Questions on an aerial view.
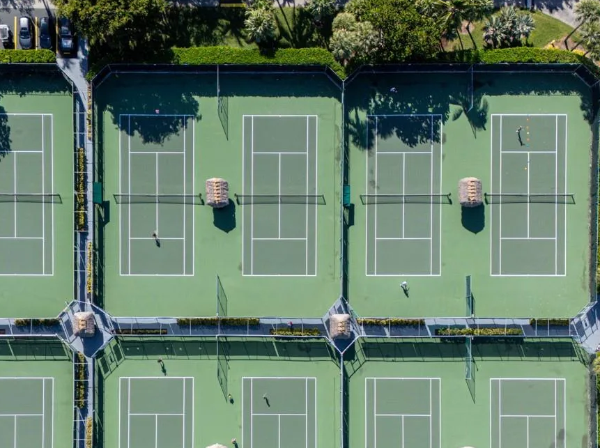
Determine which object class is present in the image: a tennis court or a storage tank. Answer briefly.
tennis court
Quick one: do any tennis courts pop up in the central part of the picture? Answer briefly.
Yes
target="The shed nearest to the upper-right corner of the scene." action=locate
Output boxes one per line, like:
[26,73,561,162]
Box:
[454,175,483,209]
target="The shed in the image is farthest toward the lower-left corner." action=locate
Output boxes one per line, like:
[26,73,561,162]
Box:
[72,310,97,339]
